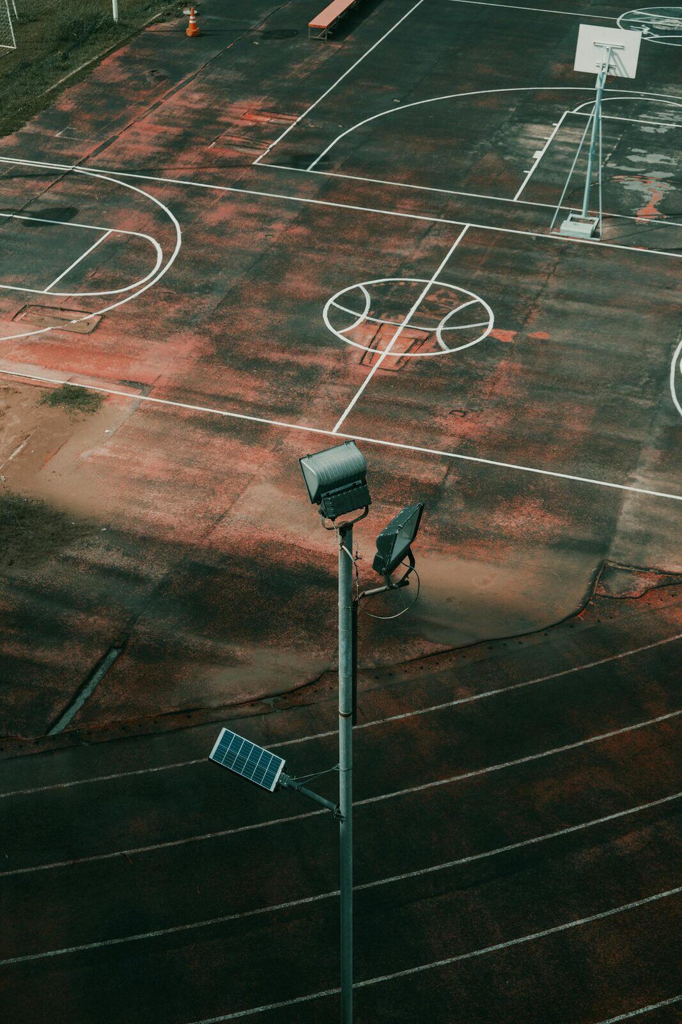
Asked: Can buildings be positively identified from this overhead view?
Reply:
No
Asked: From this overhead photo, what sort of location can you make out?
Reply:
sports ground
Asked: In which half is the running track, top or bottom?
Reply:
bottom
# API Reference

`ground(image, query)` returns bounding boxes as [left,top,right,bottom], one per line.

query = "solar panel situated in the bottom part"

[212,735,281,792]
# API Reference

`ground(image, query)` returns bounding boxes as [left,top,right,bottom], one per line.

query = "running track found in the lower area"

[0,597,682,1024]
